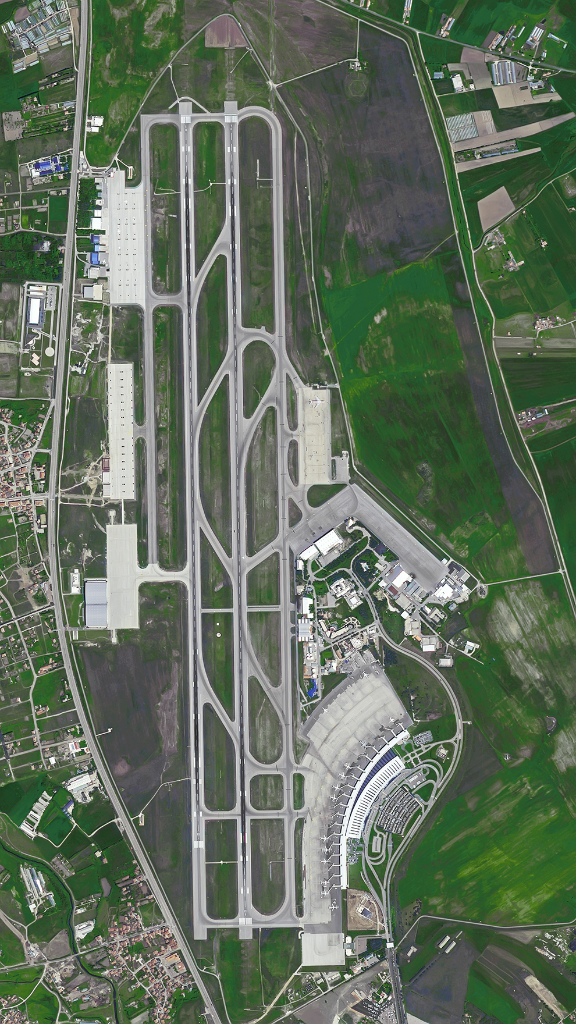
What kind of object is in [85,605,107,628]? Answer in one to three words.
hangar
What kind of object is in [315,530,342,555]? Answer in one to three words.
hangar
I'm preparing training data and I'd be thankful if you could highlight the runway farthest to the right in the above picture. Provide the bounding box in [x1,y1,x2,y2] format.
[224,101,252,939]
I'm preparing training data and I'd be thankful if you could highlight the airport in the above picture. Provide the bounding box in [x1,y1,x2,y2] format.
[106,97,449,966]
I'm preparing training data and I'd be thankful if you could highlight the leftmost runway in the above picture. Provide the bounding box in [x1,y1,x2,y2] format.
[179,102,207,939]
